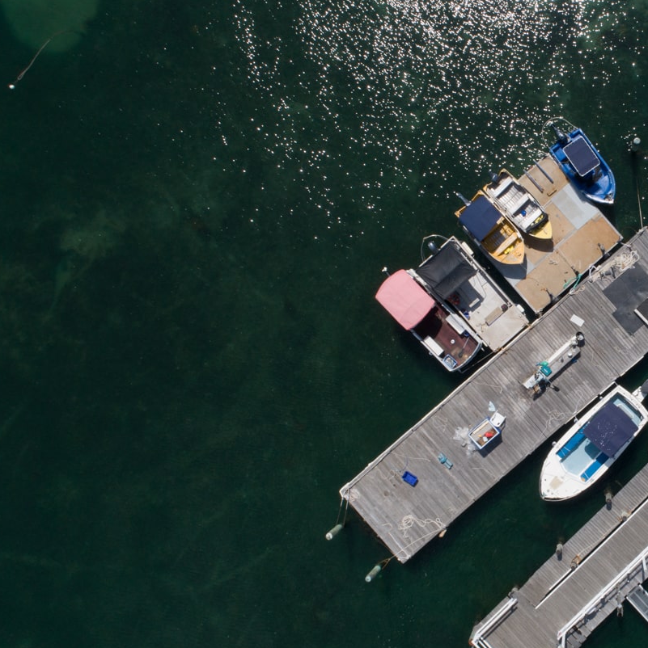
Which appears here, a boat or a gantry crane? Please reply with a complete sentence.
There is a boat in the scene.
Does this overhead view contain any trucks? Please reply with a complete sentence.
No, the photo shows no truck.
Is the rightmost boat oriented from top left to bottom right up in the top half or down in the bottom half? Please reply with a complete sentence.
The top half of the photo is where the rightmost boat oriented from top left to bottom right is.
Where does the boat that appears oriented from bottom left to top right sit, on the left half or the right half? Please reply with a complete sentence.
It is on the right.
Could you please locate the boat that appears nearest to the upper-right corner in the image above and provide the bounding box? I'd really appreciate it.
[541,116,615,204]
